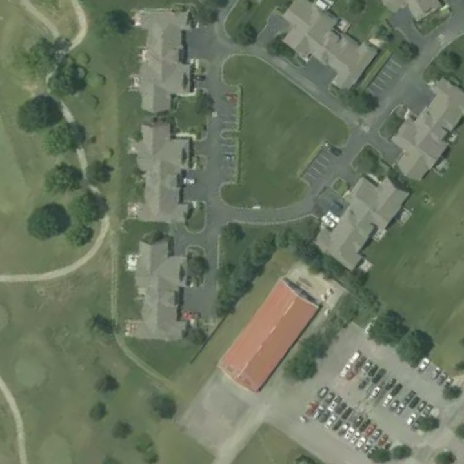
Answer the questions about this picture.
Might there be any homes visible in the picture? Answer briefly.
Yes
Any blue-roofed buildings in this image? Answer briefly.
No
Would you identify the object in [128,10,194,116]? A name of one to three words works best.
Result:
house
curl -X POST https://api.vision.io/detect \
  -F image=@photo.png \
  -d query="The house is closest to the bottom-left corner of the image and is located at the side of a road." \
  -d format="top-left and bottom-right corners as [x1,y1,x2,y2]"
[123,237,190,344]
